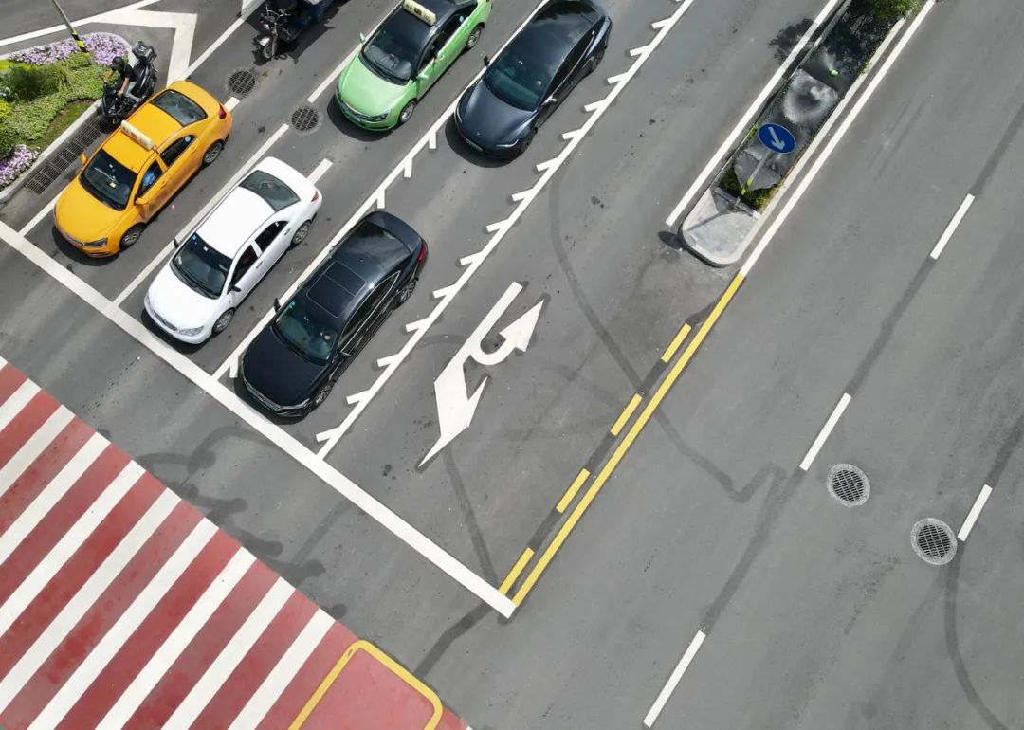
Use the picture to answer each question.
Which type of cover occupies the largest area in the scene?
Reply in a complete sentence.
The scene is dominated by paved ground.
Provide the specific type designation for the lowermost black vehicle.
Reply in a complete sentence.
The lowermost black vehicle in the image is an automobile.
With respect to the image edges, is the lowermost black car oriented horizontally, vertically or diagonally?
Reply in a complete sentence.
The lowermost black car runs diagonally in the image.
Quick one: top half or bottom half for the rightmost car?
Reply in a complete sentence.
It is in the top half that the rightmost car appears.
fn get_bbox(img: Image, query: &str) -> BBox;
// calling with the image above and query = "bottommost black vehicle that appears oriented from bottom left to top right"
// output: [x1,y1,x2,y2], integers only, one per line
[237,211,431,421]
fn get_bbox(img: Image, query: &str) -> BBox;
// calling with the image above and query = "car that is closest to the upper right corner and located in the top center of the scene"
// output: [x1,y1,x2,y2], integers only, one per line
[450,0,613,162]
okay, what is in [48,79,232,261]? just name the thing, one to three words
car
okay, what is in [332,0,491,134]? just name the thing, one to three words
car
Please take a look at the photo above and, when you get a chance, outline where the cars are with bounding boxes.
[143,158,323,345]
[332,0,491,134]
[450,0,613,162]
[237,211,431,421]
[48,79,232,261]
